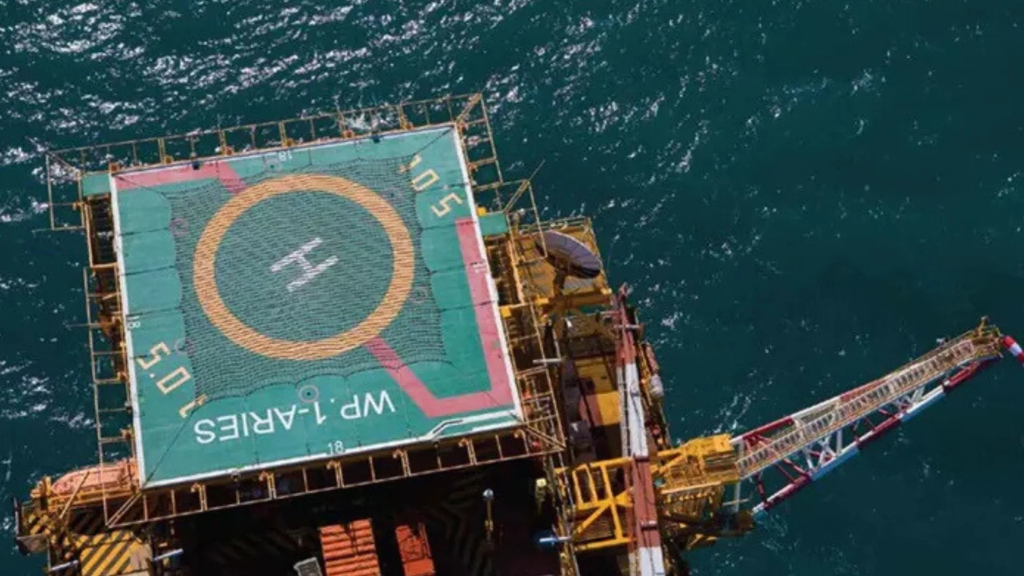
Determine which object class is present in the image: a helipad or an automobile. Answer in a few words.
helipad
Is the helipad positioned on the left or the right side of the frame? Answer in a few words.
left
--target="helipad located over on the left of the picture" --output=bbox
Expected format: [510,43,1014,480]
[23,83,565,527]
